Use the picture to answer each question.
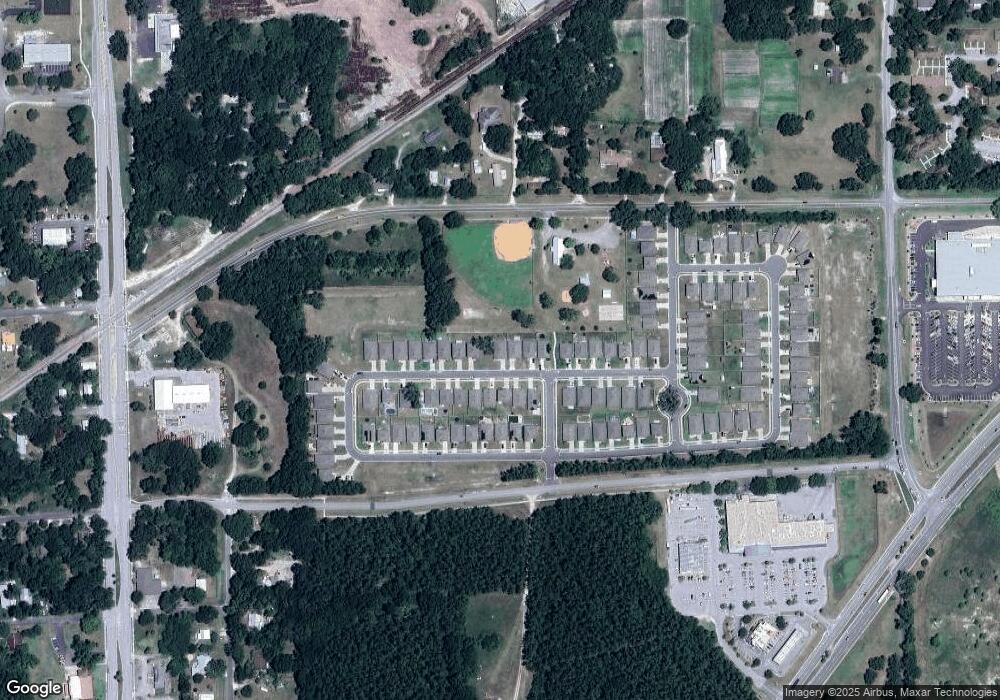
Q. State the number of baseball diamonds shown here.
one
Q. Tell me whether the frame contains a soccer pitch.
No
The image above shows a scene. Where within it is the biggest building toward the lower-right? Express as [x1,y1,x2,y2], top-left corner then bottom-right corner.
[727,494,834,556]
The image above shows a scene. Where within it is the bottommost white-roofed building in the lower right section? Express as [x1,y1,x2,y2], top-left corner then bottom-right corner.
[752,622,780,649]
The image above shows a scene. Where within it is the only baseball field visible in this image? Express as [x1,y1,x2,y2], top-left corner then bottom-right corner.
[447,220,534,308]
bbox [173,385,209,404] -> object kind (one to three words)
shed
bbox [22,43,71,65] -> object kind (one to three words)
building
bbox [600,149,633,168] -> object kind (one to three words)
house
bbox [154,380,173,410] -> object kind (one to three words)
building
